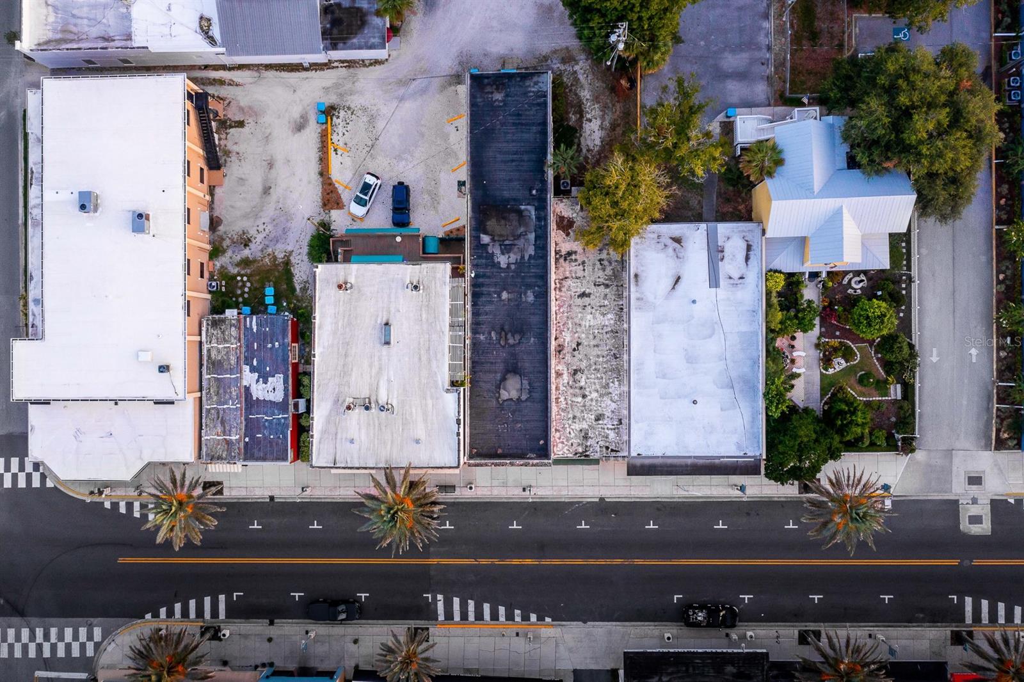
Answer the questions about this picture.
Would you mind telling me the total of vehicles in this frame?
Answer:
4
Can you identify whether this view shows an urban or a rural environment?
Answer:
urban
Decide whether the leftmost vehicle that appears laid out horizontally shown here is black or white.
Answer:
black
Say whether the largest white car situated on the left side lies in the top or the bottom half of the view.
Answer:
top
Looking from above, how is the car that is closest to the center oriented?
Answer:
from top to bottom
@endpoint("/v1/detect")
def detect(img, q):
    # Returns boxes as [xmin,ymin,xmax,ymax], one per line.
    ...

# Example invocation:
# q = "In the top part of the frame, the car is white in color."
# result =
[348,167,382,220]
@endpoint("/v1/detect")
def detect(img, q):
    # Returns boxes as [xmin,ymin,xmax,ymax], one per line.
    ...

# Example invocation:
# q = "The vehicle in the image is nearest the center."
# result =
[388,180,410,226]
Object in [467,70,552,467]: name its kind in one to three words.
building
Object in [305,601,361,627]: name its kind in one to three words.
vehicle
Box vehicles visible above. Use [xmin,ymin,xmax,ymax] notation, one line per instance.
[305,601,361,627]
[348,167,382,220]
[685,607,740,633]
[388,180,410,226]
